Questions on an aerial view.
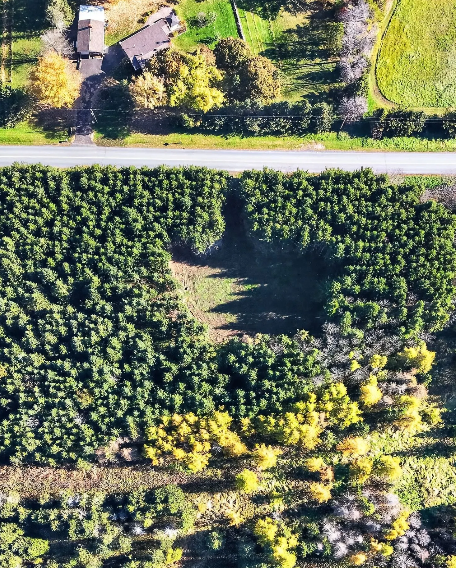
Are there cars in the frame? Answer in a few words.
No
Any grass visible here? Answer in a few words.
Yes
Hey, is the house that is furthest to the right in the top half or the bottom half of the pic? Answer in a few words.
top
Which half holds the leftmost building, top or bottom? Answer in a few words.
top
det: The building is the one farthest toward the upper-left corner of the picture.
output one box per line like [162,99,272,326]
[77,1,112,57]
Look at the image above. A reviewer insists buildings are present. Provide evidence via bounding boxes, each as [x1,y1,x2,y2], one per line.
[77,1,112,57]
[119,15,174,76]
